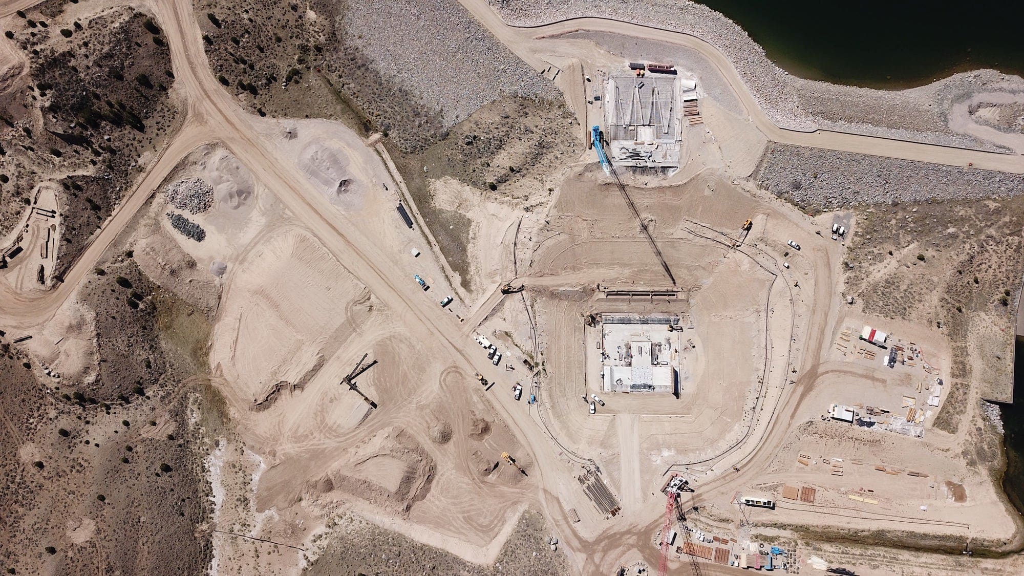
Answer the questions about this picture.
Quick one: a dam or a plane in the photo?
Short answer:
dam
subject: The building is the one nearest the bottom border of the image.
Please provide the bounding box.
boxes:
[828,404,853,421]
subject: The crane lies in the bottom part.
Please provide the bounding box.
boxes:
[653,470,685,576]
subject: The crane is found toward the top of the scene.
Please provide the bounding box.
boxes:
[588,124,611,178]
